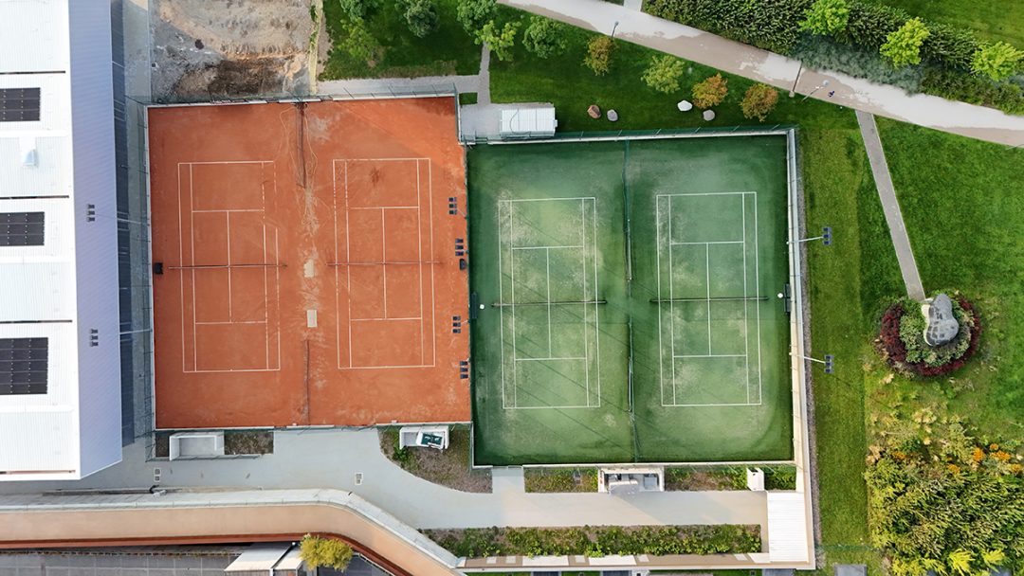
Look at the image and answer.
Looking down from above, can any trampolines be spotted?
No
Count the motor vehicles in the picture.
0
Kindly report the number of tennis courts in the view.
4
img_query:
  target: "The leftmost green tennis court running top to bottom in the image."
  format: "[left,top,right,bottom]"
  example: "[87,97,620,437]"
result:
[467,140,633,467]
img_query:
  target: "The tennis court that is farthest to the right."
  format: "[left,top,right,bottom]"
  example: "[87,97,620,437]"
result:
[626,134,793,463]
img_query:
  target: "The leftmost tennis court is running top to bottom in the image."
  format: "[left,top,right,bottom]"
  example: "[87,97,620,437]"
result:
[151,100,307,428]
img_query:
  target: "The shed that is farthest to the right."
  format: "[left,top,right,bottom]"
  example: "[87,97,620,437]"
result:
[500,107,560,140]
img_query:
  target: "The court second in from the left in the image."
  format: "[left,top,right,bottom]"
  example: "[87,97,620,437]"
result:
[302,96,471,425]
